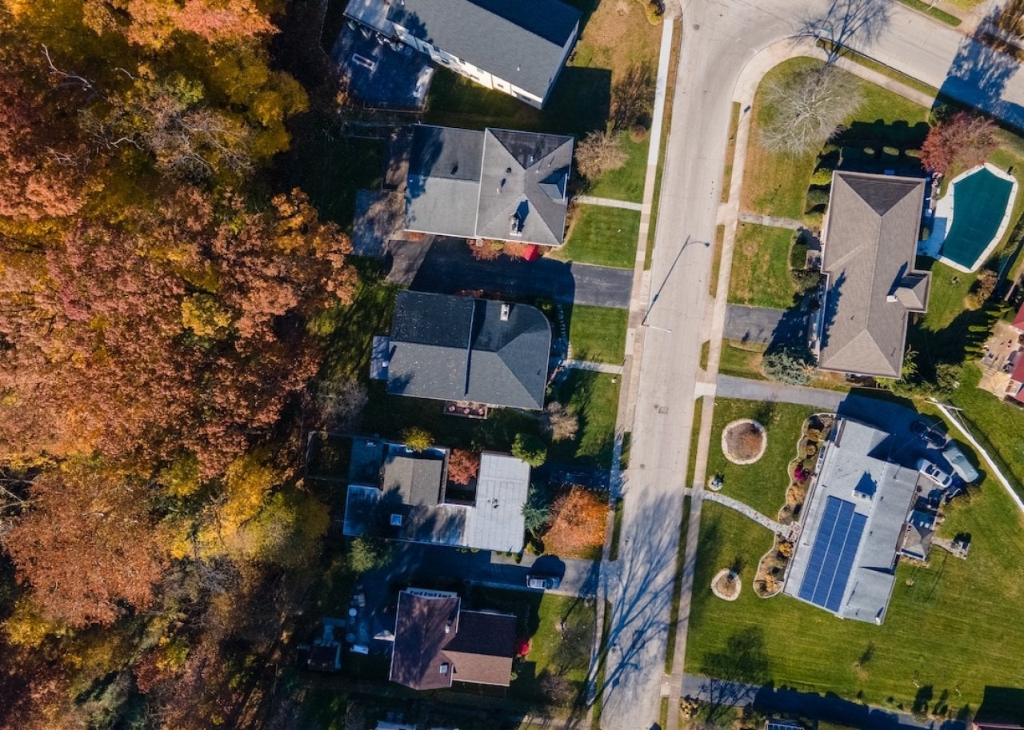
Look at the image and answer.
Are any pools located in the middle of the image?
No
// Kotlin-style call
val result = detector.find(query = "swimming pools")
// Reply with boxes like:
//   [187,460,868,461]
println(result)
[918,161,1019,276]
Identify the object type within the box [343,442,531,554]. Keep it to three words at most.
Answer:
house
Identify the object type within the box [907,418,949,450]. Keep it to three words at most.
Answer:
car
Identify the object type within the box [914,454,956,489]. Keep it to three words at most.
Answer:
car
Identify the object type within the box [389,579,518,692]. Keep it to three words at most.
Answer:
house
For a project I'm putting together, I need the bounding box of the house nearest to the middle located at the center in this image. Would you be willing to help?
[369,289,552,411]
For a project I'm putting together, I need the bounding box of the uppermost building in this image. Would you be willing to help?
[342,0,584,107]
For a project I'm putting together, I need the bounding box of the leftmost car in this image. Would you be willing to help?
[526,573,563,592]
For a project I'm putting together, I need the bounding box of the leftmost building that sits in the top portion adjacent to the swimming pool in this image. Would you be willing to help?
[813,167,935,380]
